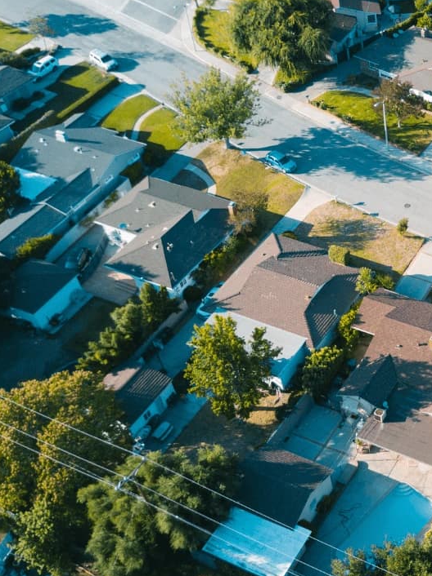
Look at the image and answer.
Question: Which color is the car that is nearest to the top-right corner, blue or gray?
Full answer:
The car that is nearest to the top-right corner looks blue in the image.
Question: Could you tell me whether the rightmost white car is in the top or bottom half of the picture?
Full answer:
The top half of the photo is where the rightmost white car is.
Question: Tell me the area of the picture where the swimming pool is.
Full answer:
Look in the bottom right portion of the view to spot the swimming pool.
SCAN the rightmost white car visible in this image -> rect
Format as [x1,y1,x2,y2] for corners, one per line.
[85,46,120,69]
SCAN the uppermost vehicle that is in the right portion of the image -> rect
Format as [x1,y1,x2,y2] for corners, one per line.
[263,149,299,172]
